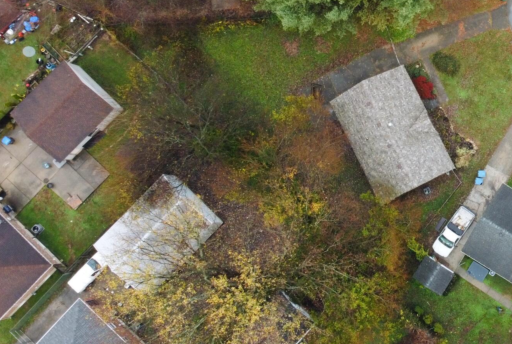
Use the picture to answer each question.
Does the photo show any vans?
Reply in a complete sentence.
Yes, a van can be made out from above.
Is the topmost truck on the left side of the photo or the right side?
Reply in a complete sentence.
You can find the topmost truck on the right side of the picture.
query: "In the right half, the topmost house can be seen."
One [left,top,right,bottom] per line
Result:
[329,64,455,207]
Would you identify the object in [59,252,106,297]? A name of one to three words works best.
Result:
van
